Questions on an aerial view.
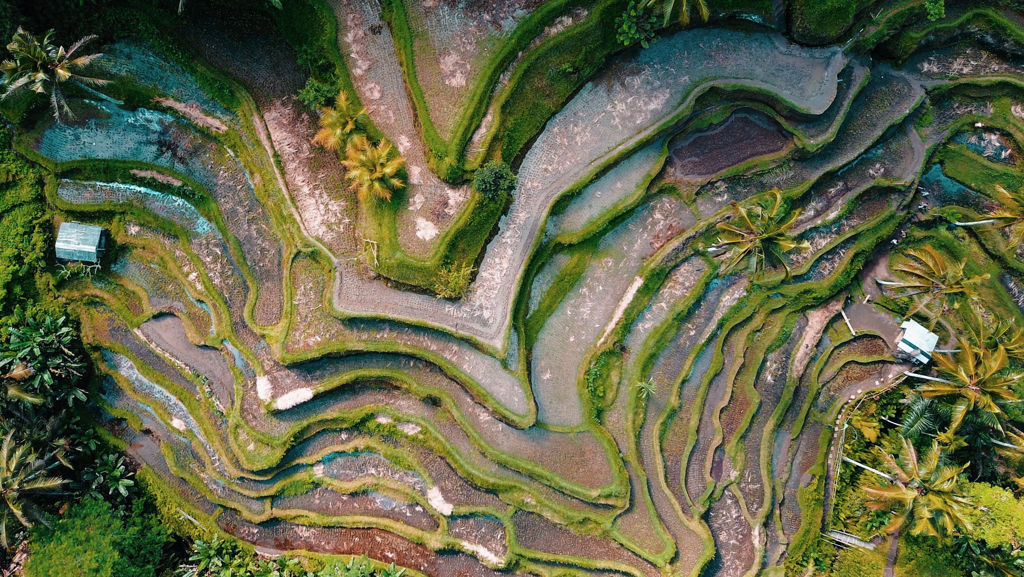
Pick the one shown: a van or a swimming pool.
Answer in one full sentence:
There is a swimming pool in the scene.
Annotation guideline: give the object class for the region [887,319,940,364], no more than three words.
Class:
shed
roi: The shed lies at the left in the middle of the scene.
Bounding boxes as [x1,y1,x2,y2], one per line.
[55,222,114,262]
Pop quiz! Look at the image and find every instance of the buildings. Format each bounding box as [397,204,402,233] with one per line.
[887,319,940,364]
[55,222,114,262]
